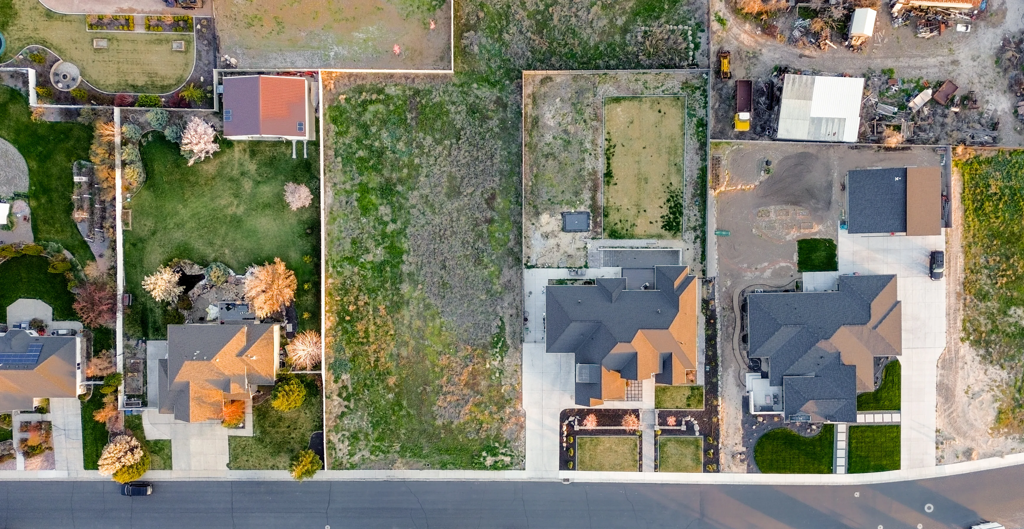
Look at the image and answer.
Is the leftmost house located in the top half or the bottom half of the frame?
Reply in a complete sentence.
You can find the leftmost house in the bottom half.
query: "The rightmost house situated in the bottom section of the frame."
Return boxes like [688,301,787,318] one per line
[743,274,902,423]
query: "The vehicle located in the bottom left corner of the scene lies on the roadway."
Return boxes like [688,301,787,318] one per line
[120,483,153,500]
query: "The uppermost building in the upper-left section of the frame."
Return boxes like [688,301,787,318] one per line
[222,75,308,140]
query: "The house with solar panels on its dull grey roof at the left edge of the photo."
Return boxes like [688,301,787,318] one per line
[0,325,88,412]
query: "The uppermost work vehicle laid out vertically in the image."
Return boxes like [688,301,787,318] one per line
[719,50,732,80]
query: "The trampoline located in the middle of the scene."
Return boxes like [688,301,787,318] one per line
[562,212,590,232]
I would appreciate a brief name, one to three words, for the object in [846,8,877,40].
shed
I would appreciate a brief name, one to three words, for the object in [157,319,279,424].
house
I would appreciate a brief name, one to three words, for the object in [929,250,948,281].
car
